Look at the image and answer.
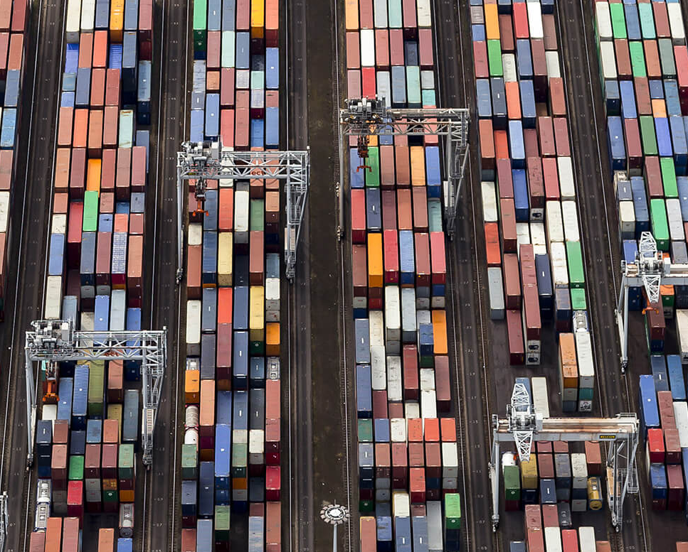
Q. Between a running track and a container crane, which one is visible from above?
container crane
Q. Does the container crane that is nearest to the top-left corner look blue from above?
No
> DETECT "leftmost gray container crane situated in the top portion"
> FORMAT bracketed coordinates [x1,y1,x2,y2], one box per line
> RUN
[175,126,308,288]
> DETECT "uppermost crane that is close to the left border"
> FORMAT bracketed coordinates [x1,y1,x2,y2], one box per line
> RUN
[22,302,164,479]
